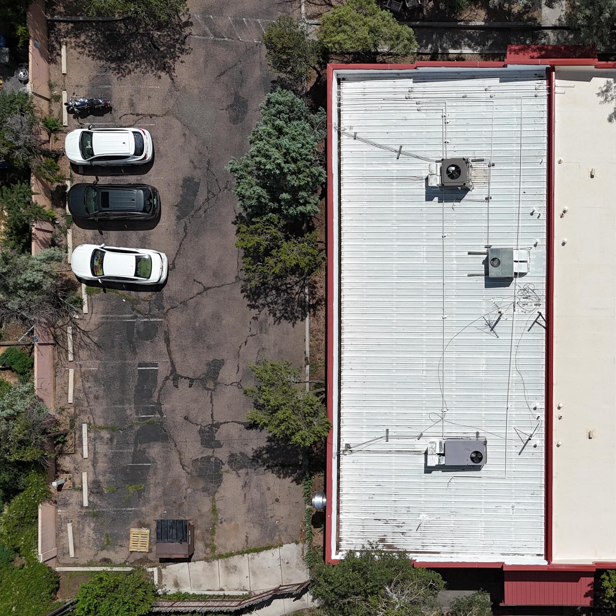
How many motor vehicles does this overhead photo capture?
4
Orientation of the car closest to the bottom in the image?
from side to side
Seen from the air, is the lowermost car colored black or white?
white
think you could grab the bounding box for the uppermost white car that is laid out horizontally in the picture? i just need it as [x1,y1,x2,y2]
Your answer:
[66,124,155,168]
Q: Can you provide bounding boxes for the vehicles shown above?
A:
[66,86,113,113]
[66,124,155,168]
[72,241,168,286]
[67,179,161,225]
